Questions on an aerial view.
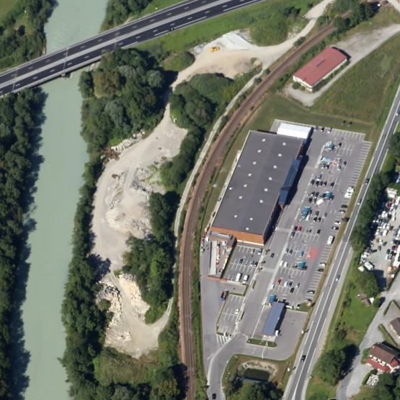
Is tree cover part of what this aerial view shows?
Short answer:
Yes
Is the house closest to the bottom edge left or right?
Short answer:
right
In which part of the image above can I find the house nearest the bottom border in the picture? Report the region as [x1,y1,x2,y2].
[368,342,400,376]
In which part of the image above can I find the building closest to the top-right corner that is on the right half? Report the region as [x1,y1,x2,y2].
[294,47,348,89]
